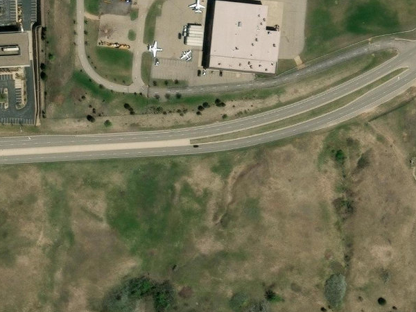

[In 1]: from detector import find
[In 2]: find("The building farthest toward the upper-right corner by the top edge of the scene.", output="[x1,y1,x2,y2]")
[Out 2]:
[209,1,280,76]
